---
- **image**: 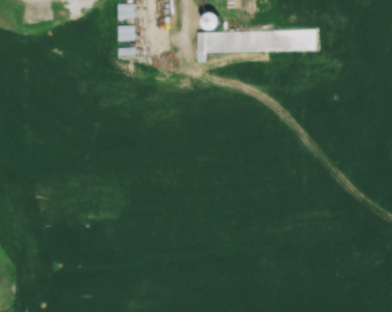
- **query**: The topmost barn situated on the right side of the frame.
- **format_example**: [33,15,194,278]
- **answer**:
[204,29,318,54]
